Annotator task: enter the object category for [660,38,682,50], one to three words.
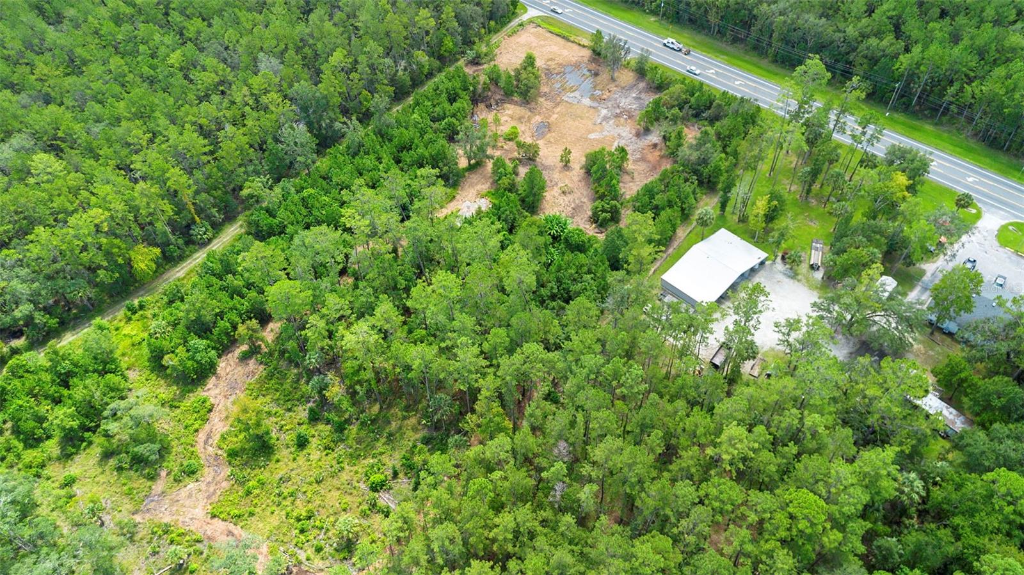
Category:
vehicle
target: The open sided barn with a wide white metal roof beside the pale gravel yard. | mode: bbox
[661,229,768,314]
